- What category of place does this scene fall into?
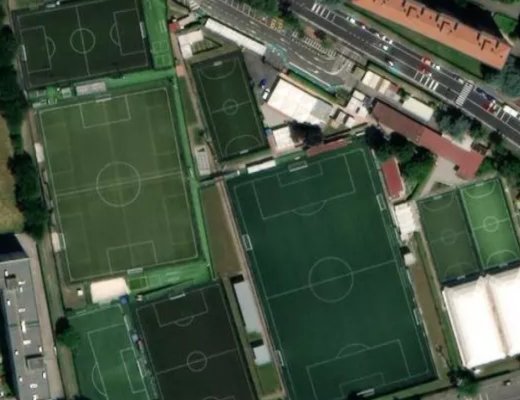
sports ground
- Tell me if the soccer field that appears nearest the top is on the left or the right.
left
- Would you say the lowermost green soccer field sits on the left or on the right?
left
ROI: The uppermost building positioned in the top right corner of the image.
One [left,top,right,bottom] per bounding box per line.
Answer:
[350,0,511,70]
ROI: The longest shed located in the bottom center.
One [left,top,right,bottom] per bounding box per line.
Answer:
[233,278,264,336]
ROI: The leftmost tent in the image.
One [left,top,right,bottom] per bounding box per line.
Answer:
[91,277,128,303]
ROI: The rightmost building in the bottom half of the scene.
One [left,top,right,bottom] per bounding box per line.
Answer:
[483,268,520,355]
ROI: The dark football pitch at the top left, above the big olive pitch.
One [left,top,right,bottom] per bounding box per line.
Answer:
[13,0,151,92]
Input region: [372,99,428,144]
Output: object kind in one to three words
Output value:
house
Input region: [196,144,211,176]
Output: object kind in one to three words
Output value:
shed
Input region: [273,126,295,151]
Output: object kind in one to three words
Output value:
building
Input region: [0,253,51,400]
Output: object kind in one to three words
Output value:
building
